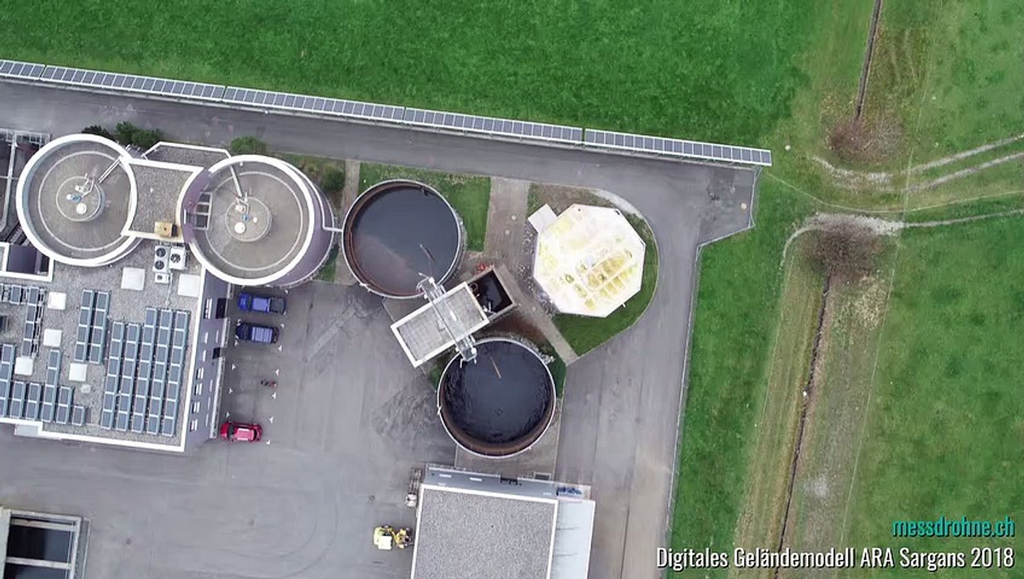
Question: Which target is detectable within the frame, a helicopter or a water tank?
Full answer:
The one in the frame is a water tank.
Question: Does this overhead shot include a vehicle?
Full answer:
Yes, I can see a vehicle in this picture.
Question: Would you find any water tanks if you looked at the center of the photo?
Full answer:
Yes, a water tank appears at the center of the photo.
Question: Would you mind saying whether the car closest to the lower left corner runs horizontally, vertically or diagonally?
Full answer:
The car closest to the lower left corner is laid out horizontally.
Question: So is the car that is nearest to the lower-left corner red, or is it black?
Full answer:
From above, the car that is nearest to the lower-left corner appears red.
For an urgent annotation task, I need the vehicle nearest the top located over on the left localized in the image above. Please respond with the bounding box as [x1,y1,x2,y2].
[236,291,288,314]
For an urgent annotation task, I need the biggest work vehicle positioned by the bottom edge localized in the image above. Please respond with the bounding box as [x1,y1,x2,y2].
[372,522,415,554]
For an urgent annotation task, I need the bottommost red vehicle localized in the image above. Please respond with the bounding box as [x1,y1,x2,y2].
[220,422,264,443]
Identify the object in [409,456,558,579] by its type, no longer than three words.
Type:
building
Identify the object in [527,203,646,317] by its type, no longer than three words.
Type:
building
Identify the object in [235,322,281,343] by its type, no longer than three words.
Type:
car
